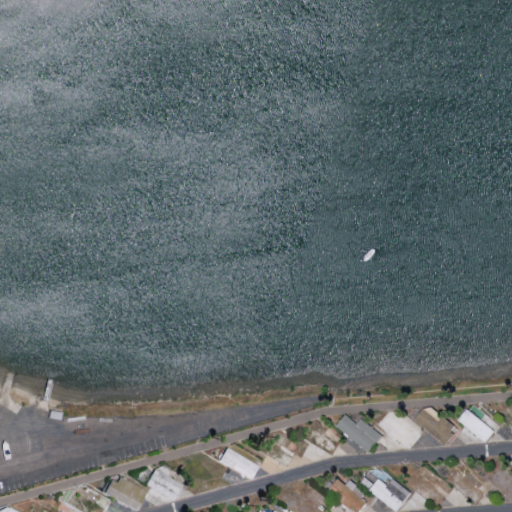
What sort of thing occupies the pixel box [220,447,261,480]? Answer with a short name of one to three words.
house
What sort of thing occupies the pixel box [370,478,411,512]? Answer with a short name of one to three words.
house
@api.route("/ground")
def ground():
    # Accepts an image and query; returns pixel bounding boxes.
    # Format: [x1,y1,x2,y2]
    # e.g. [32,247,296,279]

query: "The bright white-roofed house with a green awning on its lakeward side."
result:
[458,406,494,443]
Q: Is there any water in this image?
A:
Yes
